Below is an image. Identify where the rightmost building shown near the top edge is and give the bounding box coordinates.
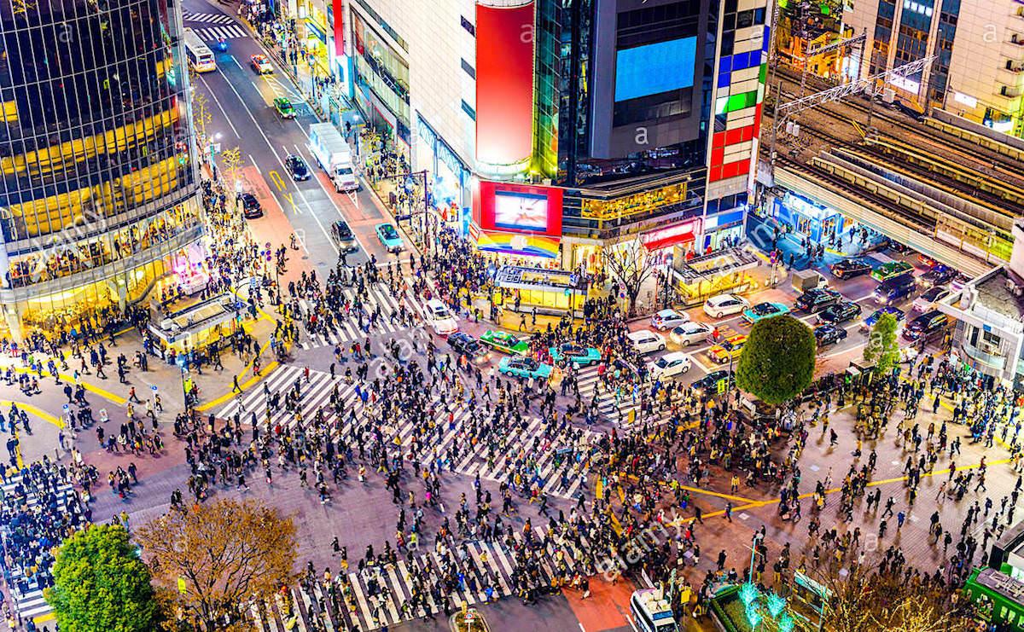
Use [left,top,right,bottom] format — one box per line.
[847,0,1024,161]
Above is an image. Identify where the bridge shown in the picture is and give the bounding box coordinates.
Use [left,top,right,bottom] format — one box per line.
[757,83,1024,283]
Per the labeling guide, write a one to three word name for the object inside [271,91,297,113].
car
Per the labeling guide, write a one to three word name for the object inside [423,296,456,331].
car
